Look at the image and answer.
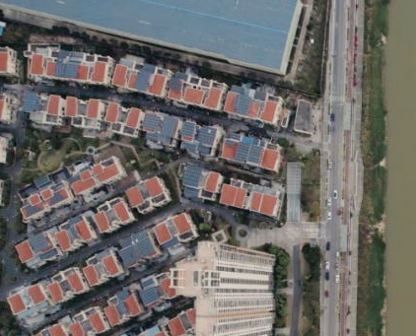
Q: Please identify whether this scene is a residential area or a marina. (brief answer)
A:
residential area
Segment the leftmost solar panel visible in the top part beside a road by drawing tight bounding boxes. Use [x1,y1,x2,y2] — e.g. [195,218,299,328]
[22,91,40,111]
